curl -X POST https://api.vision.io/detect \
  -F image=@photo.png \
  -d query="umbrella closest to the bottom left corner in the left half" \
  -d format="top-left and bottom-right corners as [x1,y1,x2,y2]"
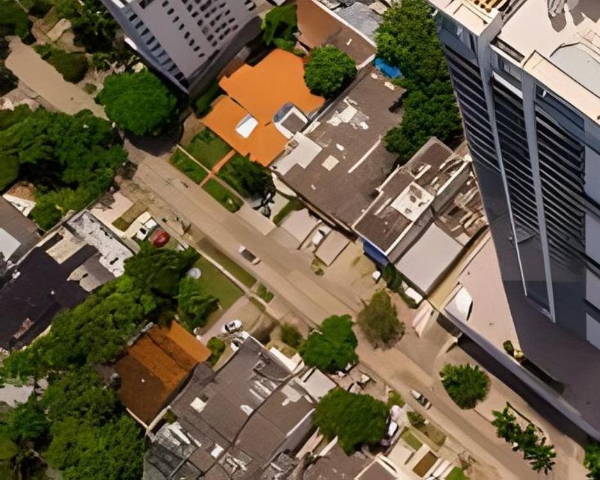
[188,267,202,280]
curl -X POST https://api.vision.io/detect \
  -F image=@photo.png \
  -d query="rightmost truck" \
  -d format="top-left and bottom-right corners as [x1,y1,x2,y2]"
[407,385,435,415]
